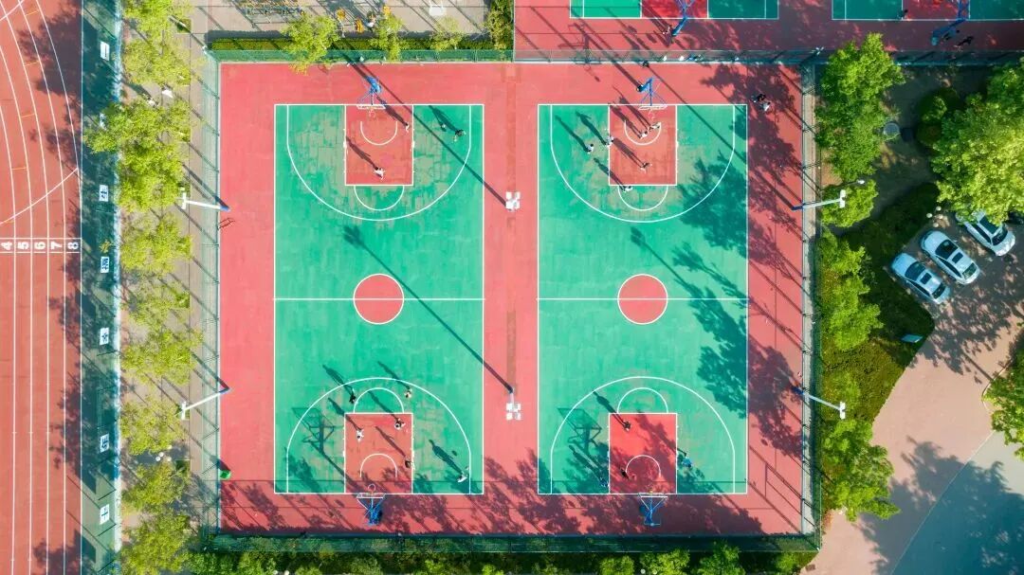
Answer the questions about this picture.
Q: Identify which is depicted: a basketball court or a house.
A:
basketball court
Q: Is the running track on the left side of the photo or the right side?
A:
left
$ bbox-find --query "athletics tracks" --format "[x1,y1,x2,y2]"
[0,0,82,575]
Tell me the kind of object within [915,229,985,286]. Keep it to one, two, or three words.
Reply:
car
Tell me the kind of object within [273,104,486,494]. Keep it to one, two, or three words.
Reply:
basketball court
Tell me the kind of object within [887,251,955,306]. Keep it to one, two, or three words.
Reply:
car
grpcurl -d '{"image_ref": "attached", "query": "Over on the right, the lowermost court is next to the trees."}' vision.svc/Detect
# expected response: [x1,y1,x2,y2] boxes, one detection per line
[536,104,749,494]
